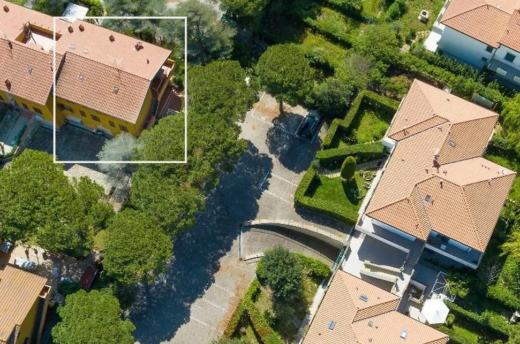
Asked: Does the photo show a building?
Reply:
Yes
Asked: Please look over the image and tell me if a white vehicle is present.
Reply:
No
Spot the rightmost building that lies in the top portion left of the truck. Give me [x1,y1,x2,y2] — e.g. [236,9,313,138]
[54,18,180,140]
